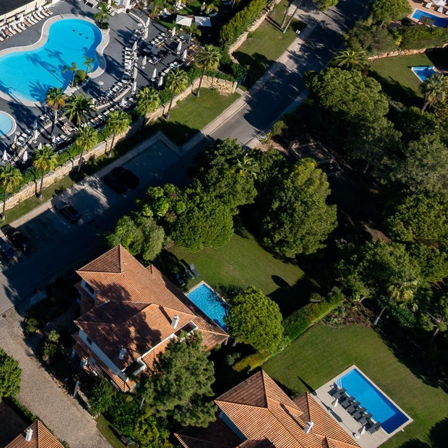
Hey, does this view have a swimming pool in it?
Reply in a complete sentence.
Yes, there's a swimming pool down there.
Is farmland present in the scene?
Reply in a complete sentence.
No, there's no farmland in this view.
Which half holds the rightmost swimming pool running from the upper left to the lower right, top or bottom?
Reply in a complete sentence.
The rightmost swimming pool running from the upper left to the lower right sits in the bottom half of the picture.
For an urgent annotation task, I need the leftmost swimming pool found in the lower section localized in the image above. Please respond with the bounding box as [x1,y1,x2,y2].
[183,280,232,338]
